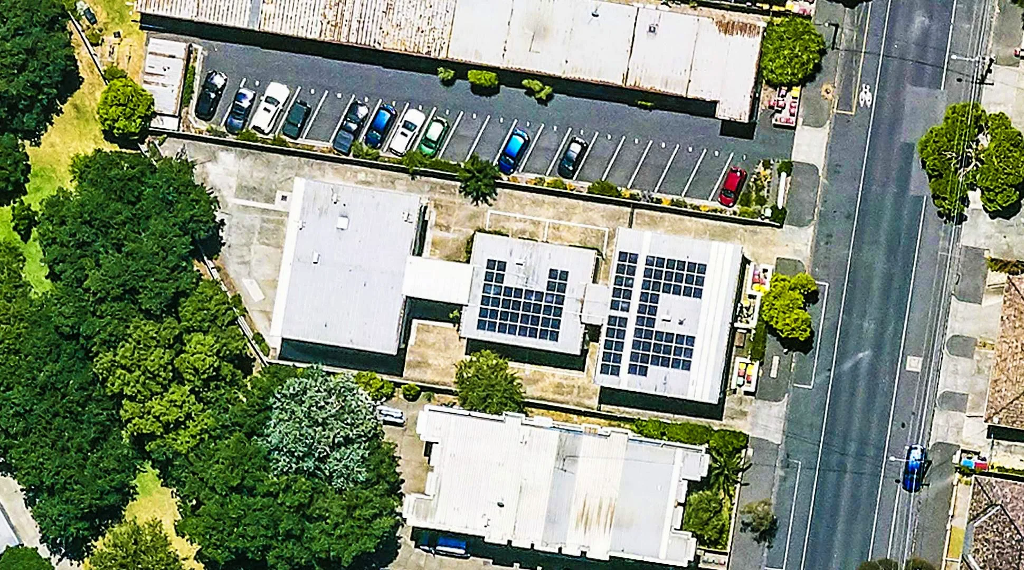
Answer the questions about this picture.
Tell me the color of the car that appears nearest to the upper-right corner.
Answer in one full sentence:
The car that appears nearest to the upper-right corner is red.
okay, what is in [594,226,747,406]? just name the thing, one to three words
building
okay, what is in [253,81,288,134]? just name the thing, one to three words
car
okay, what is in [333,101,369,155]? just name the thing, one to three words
vehicle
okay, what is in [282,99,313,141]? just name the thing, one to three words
car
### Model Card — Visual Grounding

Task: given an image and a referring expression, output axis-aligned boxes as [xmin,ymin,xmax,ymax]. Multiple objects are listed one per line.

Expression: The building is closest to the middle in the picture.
[459,231,601,356]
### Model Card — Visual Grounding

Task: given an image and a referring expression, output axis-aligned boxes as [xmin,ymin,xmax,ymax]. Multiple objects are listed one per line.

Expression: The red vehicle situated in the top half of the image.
[719,166,748,208]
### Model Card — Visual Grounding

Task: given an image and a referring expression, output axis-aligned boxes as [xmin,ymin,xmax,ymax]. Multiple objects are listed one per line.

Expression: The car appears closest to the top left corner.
[198,70,226,121]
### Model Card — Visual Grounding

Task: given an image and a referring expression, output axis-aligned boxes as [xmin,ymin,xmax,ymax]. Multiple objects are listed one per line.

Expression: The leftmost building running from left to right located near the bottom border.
[406,405,713,565]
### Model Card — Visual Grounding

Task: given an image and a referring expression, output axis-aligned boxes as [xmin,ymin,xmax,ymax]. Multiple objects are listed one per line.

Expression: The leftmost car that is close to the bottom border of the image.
[417,531,472,558]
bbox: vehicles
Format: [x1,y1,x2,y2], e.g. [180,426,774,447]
[420,116,450,158]
[282,99,313,141]
[559,136,589,179]
[365,103,396,148]
[719,166,748,208]
[389,107,424,158]
[333,101,369,155]
[228,87,255,134]
[417,531,472,558]
[198,70,226,121]
[370,401,404,426]
[499,128,530,175]
[253,81,288,134]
